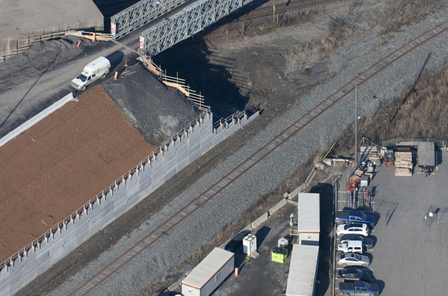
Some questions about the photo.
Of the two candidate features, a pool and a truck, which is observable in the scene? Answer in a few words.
truck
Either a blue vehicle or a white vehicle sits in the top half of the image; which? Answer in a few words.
white vehicle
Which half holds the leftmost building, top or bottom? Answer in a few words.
bottom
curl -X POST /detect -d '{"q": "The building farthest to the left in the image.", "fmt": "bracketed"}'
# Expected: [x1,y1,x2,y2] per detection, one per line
[173,243,243,296]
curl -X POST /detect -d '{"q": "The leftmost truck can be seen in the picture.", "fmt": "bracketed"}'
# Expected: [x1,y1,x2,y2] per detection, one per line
[74,52,110,84]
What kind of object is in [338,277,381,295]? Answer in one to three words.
vehicle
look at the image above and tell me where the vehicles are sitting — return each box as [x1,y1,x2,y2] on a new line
[337,251,371,266]
[337,220,368,233]
[335,235,366,252]
[340,231,374,245]
[338,277,381,295]
[74,52,110,84]
[337,264,371,278]
[335,206,377,224]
